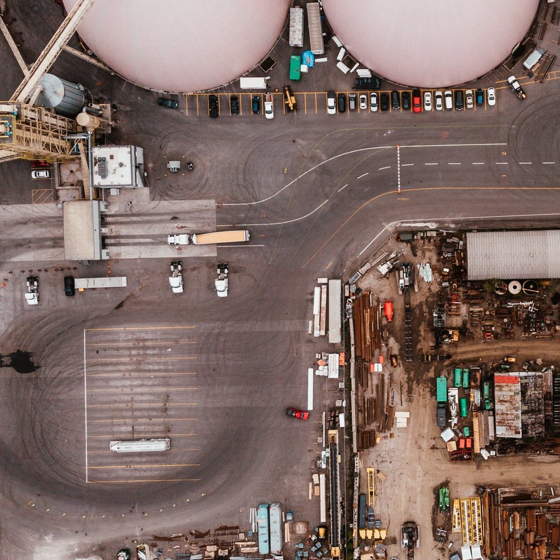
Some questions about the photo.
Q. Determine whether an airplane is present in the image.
No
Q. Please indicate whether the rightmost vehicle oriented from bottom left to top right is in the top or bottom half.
top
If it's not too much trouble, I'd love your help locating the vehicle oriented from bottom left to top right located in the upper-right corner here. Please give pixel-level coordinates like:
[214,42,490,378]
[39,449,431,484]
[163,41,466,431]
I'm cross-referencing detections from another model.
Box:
[524,44,546,71]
